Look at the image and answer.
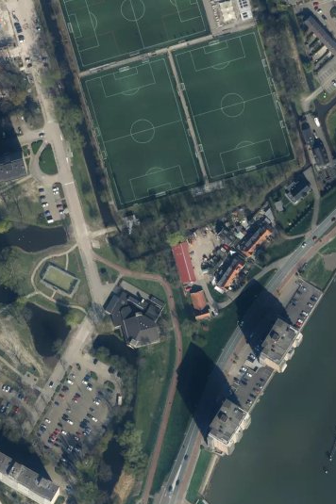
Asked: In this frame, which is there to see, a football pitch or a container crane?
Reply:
football pitch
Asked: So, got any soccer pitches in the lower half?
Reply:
No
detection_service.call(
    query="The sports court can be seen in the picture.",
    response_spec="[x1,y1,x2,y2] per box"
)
[42,265,78,293]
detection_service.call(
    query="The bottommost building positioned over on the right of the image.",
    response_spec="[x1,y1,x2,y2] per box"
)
[204,400,249,455]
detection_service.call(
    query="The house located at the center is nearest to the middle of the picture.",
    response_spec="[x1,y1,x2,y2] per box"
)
[173,243,196,283]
